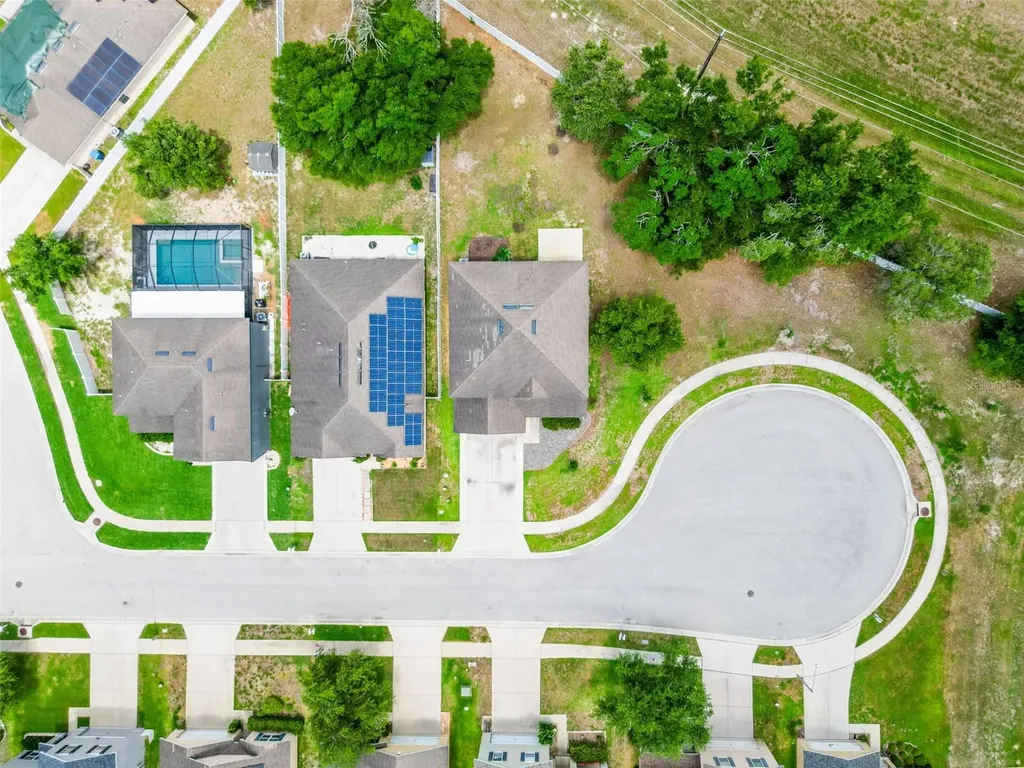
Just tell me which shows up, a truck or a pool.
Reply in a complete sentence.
Looking from above, you can make out a pool.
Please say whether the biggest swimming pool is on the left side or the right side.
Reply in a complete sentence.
You can find the biggest swimming pool on the left side of the picture.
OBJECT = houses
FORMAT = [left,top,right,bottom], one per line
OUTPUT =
[797,739,894,768]
[635,737,784,768]
[449,261,589,435]
[0,728,156,768]
[287,259,425,458]
[158,728,297,768]
[337,734,448,768]
[474,732,612,768]
[0,0,196,166]
[112,290,269,463]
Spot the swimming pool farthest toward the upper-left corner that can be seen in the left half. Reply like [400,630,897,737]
[152,236,240,288]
